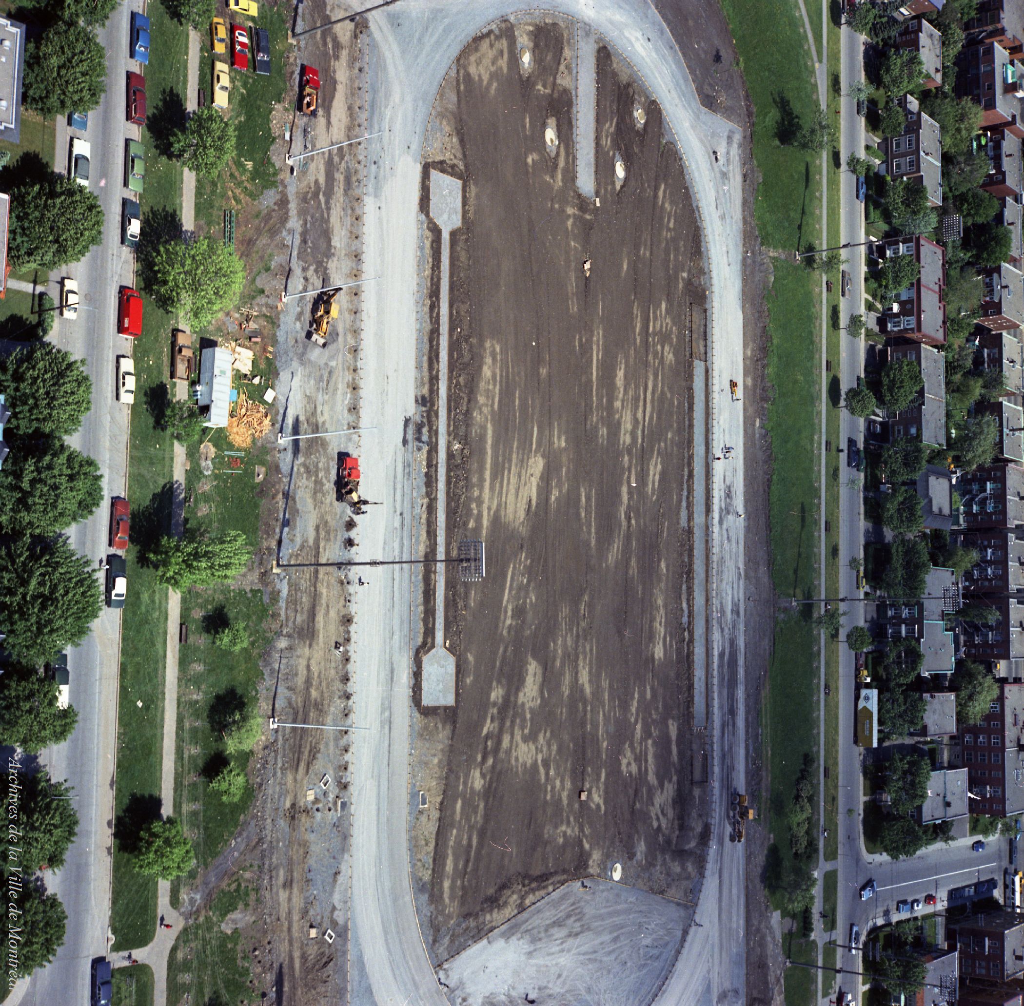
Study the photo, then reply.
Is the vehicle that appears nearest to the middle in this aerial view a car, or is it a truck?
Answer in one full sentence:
Looking closely, the vehicle that appears nearest to the middle is a truck.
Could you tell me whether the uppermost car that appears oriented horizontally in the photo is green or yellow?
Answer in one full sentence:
In this view, the uppermost car that appears oriented horizontally is yellow.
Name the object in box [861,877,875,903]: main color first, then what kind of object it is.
blue car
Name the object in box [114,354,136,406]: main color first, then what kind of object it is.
white car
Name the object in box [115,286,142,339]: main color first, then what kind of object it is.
red vehicle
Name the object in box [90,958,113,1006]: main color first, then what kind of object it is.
blue car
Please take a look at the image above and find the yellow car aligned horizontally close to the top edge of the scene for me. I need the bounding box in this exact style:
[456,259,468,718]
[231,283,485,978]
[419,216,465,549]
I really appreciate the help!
[223,0,263,20]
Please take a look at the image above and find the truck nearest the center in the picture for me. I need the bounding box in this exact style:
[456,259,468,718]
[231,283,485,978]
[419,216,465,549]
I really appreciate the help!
[334,456,388,516]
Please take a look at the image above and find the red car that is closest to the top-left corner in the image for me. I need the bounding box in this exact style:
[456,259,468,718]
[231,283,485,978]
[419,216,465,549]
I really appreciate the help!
[125,70,147,126]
